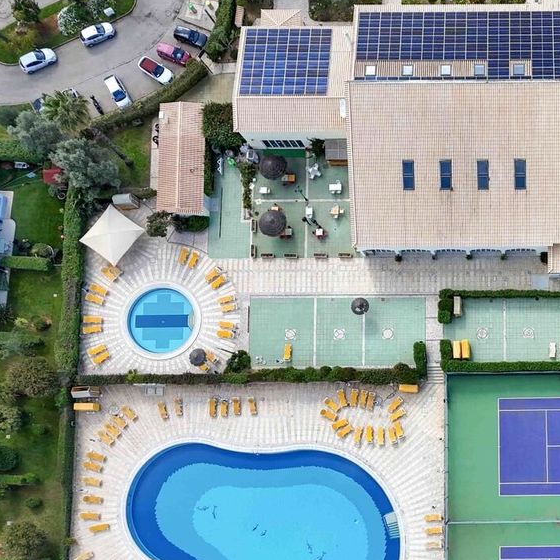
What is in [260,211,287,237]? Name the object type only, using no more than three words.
umbrella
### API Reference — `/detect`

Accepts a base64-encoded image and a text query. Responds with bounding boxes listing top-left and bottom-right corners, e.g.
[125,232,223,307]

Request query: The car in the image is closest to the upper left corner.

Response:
[19,49,58,73]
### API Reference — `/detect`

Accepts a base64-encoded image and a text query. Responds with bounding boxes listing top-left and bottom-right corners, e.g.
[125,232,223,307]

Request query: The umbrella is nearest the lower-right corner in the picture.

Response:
[351,298,370,316]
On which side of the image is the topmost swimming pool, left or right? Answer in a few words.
left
